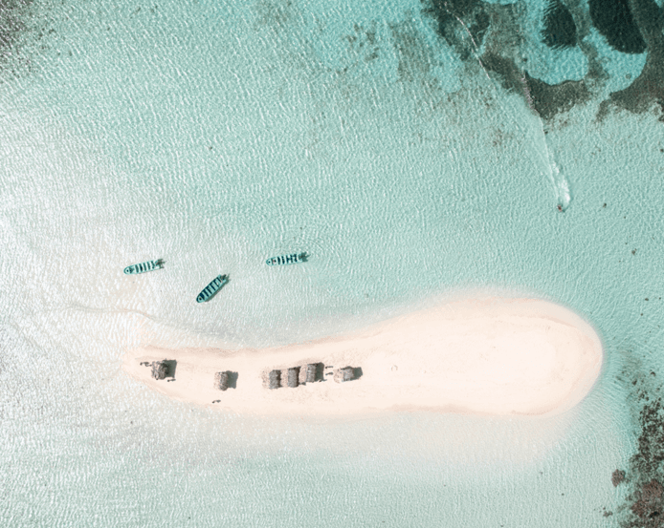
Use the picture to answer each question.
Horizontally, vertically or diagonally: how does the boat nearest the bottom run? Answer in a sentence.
From this overhead view, the boat nearest the bottom appears to run diagonally.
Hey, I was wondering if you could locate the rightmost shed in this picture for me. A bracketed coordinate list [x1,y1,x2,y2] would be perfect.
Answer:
[331,366,358,383]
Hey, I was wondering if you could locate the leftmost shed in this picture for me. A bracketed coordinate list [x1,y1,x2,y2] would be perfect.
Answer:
[149,359,170,380]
